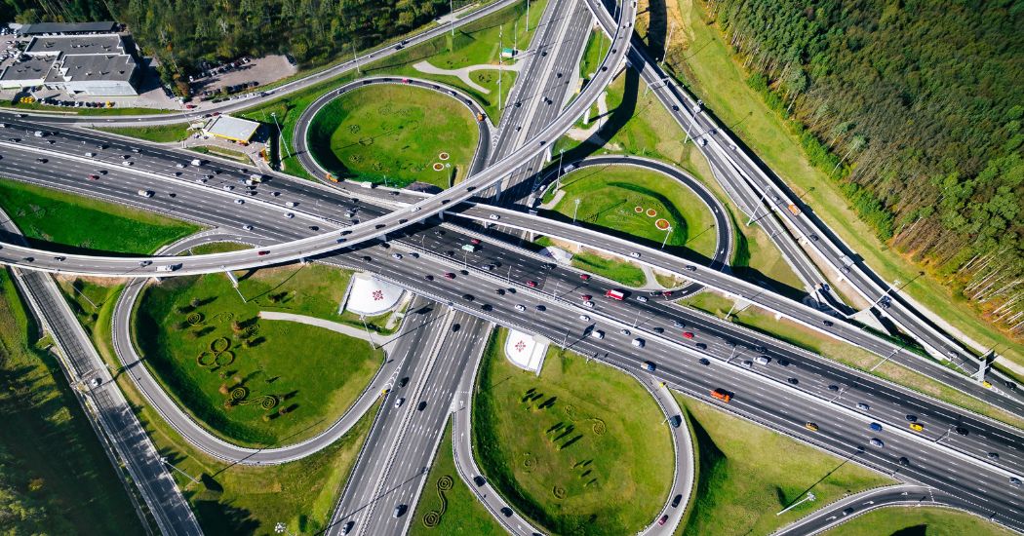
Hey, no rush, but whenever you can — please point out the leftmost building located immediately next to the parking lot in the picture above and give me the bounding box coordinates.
[0,34,141,92]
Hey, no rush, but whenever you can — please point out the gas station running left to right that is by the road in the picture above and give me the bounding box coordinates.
[196,115,260,142]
